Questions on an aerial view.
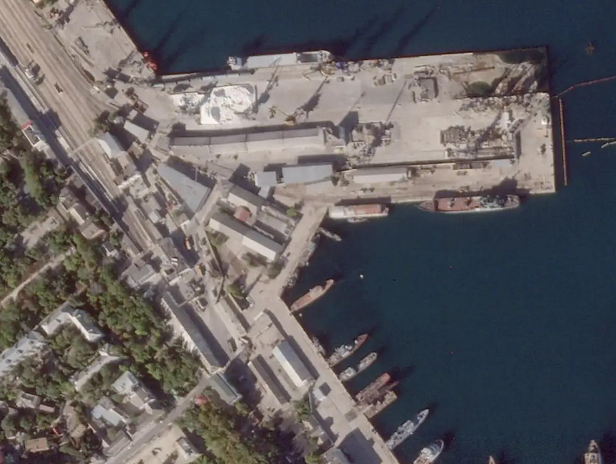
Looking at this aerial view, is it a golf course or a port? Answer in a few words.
port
